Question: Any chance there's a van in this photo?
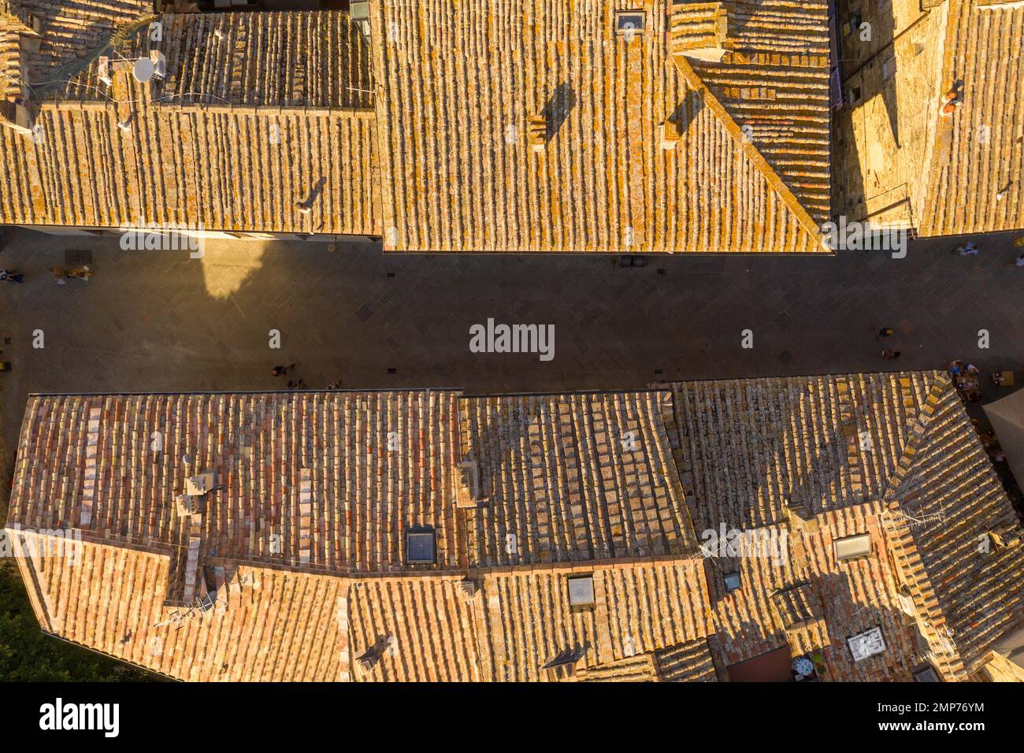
No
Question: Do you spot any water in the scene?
No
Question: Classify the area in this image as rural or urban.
urban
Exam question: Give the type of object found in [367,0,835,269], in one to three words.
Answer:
house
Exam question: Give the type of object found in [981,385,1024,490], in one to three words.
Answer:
umbrella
